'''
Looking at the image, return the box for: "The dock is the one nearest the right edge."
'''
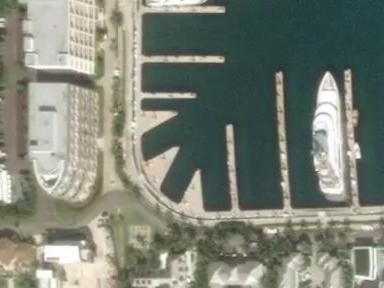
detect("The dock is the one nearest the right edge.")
[344,68,363,207]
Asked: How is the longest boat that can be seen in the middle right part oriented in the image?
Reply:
from top to bottom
